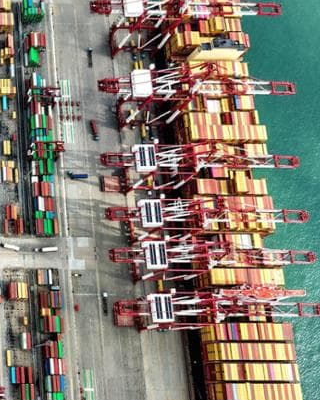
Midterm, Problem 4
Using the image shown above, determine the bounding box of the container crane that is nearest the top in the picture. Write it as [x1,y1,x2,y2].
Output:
[91,0,279,59]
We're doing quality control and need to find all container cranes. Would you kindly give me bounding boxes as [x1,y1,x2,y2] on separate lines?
[103,138,302,198]
[26,86,61,107]
[97,64,291,132]
[116,282,320,335]
[108,193,311,248]
[26,140,62,159]
[111,233,318,285]
[91,0,279,59]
